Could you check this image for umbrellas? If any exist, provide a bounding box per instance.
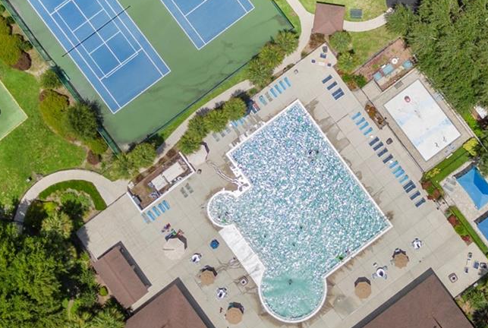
[226,308,243,324]
[354,282,372,298]
[393,252,410,269]
[199,270,215,285]
[164,236,185,259]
